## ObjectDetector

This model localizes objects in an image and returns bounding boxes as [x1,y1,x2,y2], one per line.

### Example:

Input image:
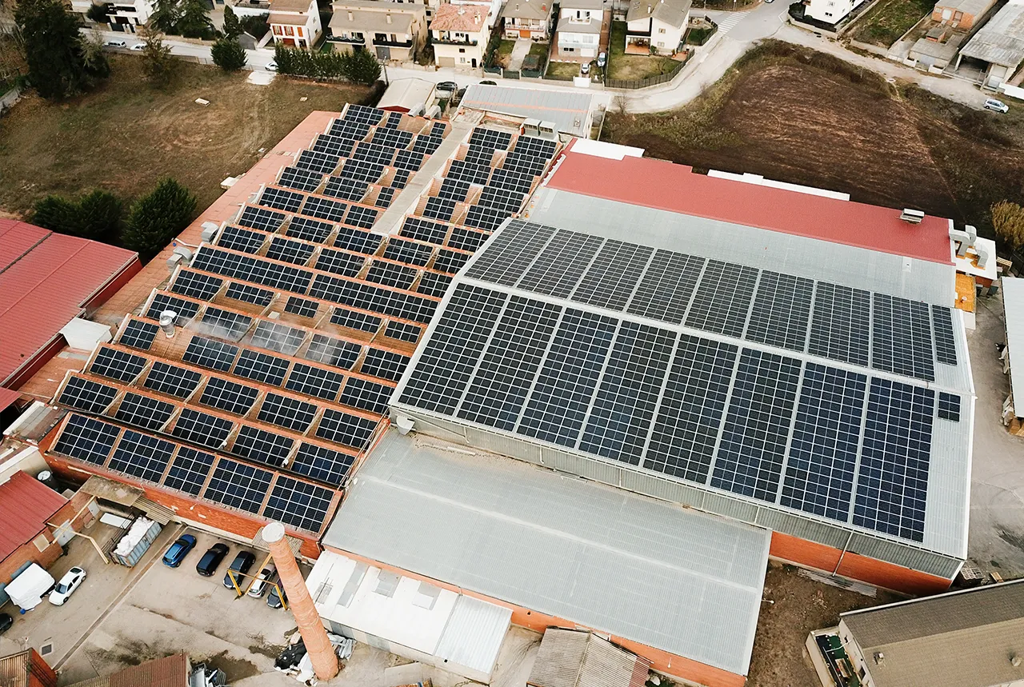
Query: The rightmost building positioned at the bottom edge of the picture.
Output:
[802,575,1024,687]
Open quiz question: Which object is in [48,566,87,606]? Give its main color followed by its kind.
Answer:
white car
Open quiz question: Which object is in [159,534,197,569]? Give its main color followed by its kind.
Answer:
blue car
